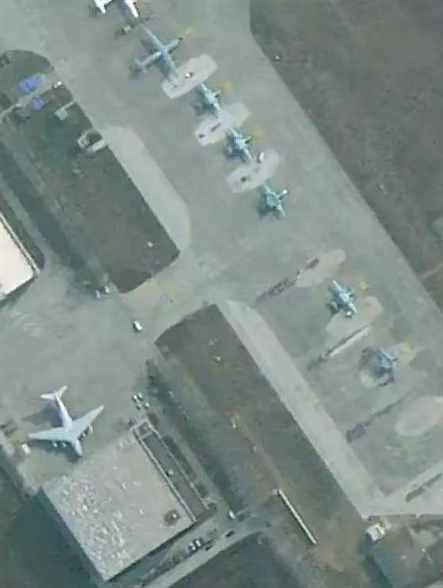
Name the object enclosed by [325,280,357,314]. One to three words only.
airplane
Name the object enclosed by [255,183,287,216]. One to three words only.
airplane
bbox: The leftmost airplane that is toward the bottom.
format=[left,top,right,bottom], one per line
[28,380,105,457]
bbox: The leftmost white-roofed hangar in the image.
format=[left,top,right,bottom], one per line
[0,214,37,295]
